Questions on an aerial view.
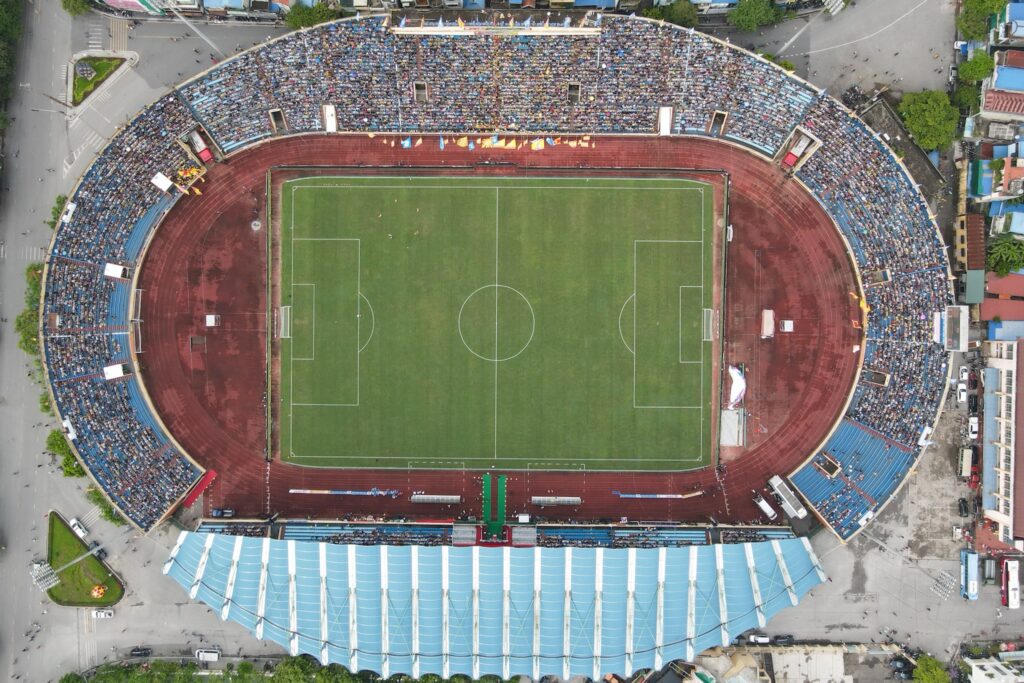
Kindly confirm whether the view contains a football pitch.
Yes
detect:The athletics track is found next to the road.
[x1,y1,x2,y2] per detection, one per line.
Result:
[135,135,863,550]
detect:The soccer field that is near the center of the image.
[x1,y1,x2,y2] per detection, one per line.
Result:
[271,172,723,504]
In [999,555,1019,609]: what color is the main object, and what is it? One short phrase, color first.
white bus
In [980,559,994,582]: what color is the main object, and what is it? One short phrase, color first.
gray vehicle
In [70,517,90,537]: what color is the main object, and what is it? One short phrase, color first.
white car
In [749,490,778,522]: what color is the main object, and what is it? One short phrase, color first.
white truck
